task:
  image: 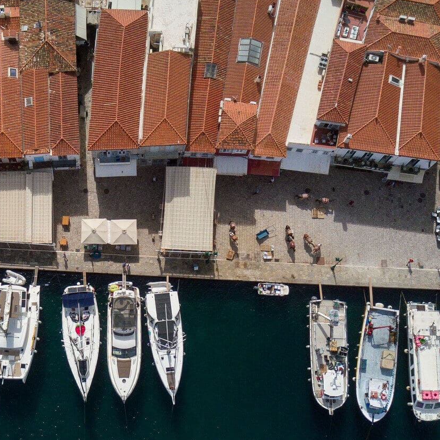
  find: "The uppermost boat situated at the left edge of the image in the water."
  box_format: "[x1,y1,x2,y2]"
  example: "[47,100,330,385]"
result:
[4,271,26,286]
